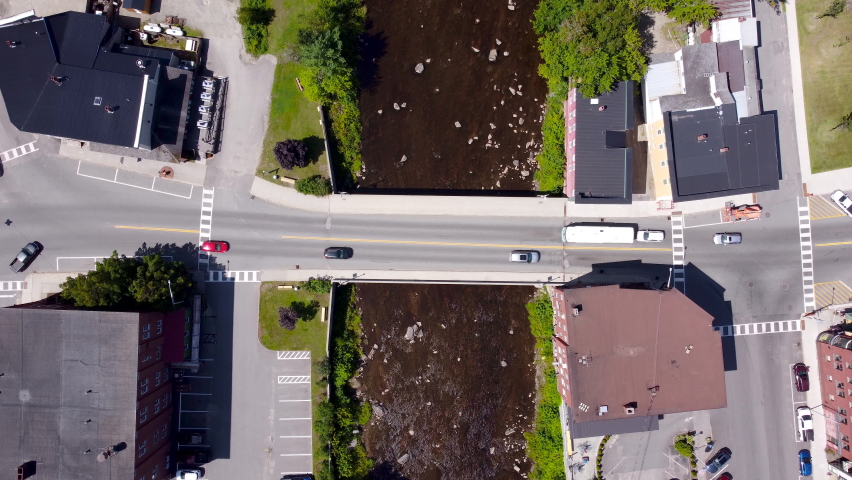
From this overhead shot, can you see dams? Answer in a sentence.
No, no dam is visible in the view.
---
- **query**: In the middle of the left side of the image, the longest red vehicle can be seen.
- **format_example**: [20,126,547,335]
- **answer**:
[201,240,230,253]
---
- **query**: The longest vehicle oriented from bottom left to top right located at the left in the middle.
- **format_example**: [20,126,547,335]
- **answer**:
[8,242,43,273]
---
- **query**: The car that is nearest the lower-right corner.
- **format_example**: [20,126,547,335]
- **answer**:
[797,448,813,475]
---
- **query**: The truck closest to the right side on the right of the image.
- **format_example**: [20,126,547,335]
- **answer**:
[830,189,852,221]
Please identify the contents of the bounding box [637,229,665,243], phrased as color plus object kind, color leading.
white car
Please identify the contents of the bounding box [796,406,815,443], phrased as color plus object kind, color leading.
white vehicle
